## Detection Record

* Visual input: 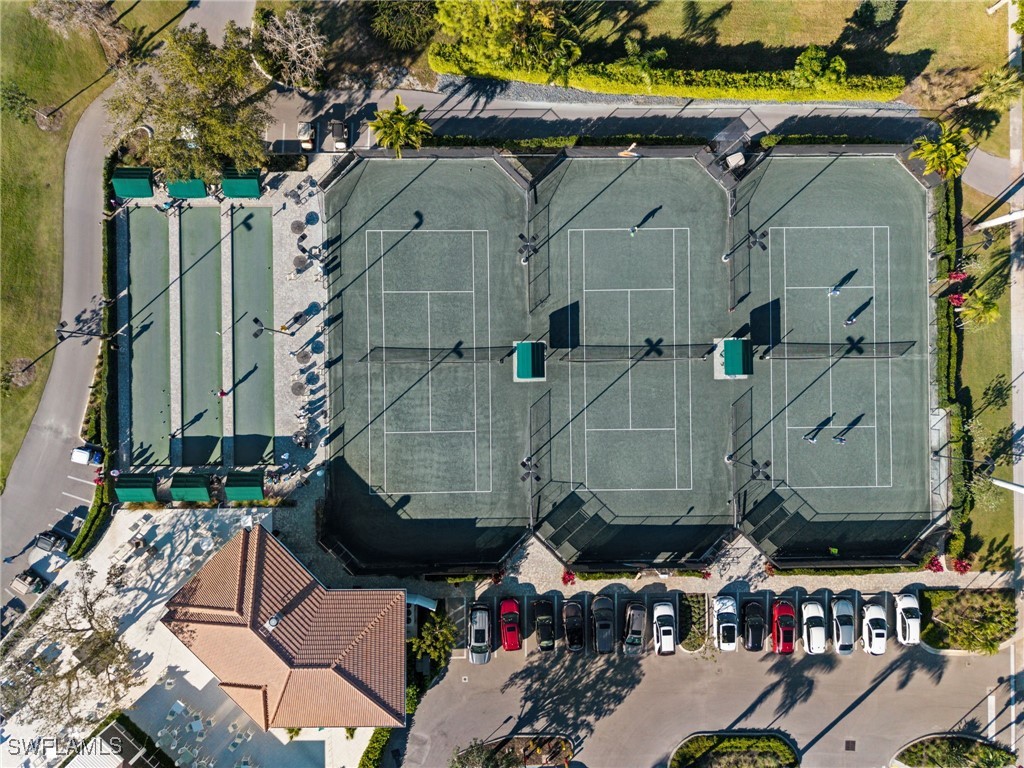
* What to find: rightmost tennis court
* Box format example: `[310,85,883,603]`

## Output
[730,158,931,558]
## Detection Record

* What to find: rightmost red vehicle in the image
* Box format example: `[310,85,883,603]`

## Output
[770,599,797,654]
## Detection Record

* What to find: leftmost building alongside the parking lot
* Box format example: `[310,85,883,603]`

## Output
[158,523,408,733]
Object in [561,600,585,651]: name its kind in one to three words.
car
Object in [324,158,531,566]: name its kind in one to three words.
tennis court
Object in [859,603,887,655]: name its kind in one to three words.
car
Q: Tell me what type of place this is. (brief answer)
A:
sports ground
